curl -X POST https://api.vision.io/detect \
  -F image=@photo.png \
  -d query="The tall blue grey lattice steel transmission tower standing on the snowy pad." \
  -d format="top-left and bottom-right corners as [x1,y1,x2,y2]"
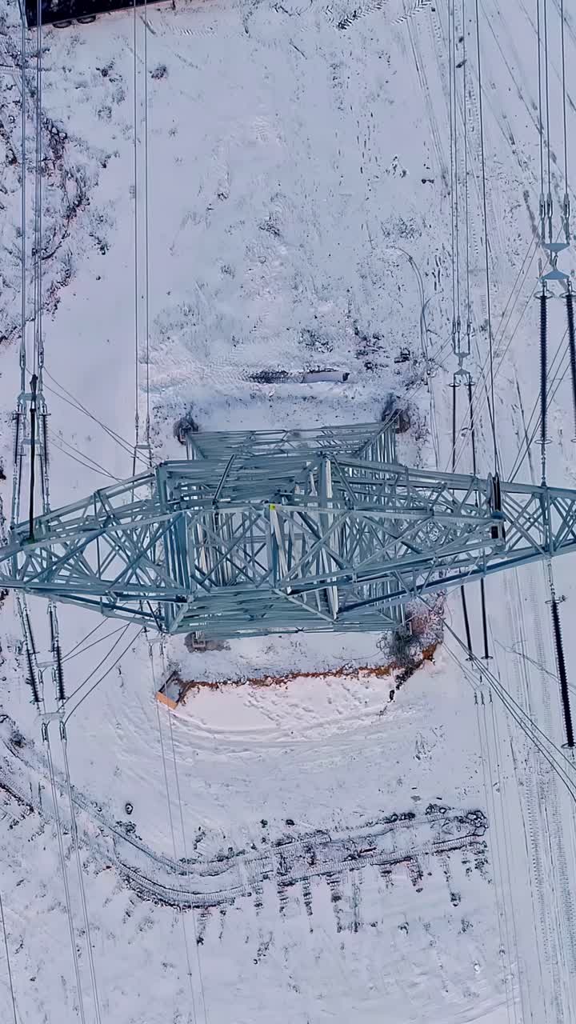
[0,416,576,639]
